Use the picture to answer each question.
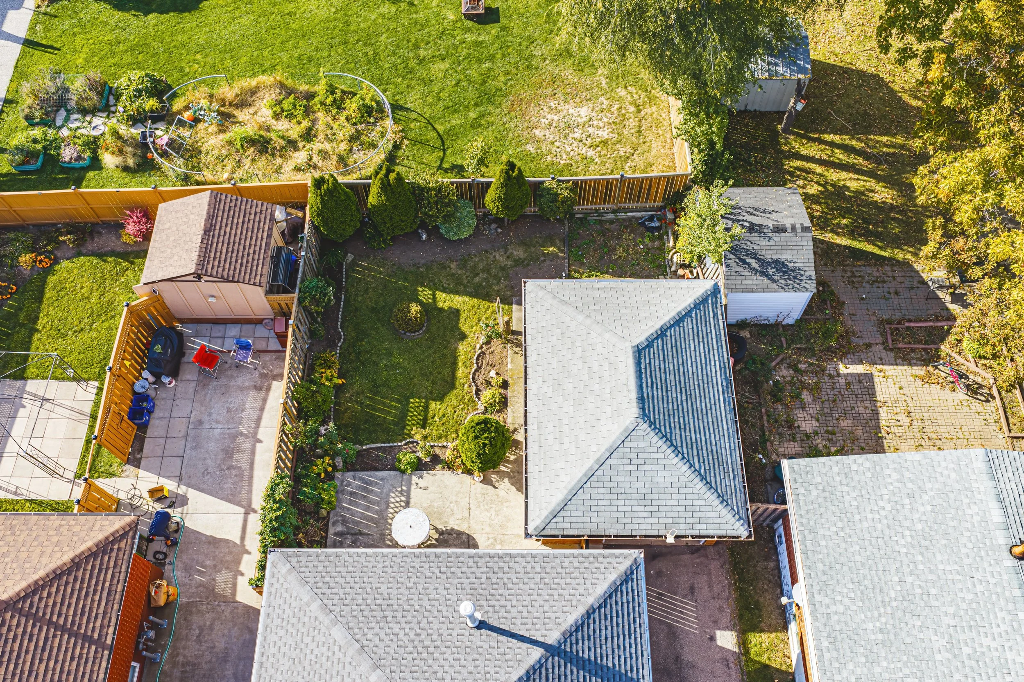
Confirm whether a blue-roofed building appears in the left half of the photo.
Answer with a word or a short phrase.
No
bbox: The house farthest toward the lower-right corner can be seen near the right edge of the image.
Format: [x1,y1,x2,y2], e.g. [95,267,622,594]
[773,447,1024,682]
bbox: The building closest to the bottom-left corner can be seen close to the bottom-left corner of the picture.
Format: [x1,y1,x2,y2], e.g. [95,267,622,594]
[0,512,163,682]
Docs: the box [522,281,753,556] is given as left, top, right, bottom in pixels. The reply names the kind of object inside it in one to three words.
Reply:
building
